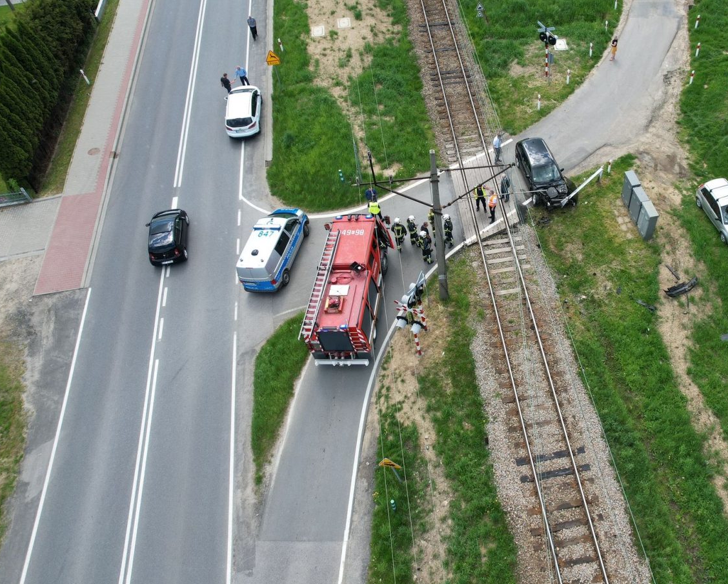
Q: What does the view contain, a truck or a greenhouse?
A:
truck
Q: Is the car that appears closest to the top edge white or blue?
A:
white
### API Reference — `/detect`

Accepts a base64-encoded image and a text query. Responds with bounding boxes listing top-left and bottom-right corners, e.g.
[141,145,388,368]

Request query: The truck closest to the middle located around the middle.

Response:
[298,214,402,374]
